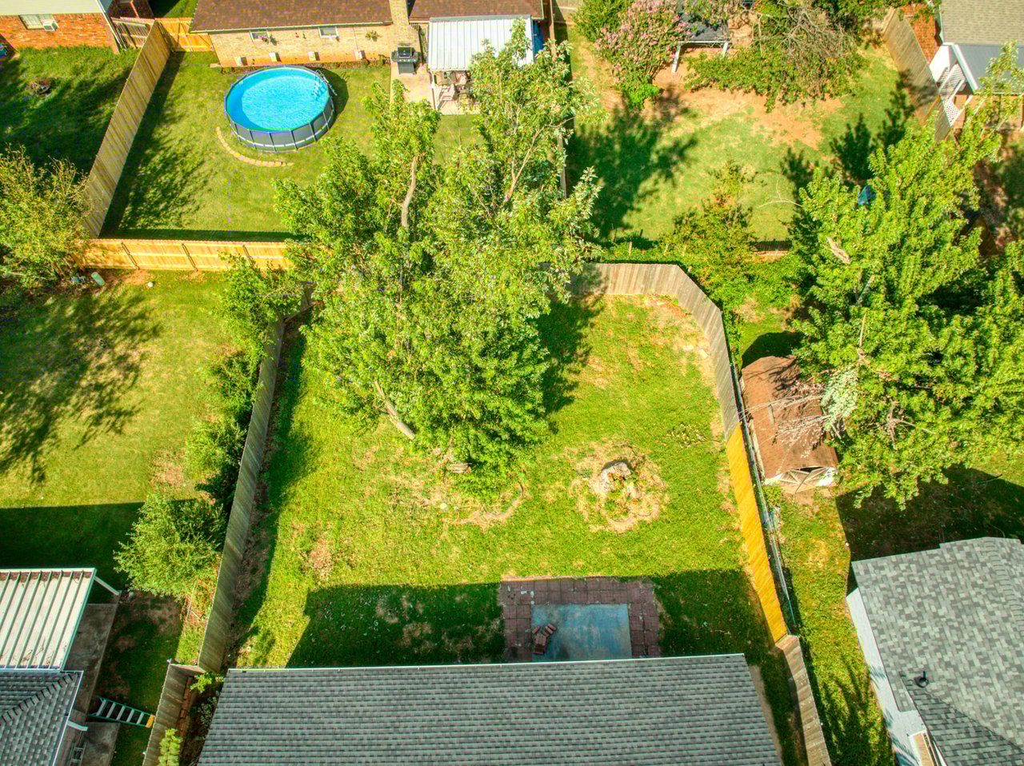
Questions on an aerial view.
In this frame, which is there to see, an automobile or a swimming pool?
swimming pool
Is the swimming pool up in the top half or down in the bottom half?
top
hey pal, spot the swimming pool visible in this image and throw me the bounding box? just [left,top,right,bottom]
[225,68,339,155]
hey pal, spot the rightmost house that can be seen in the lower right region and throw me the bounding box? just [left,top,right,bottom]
[849,532,1024,766]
